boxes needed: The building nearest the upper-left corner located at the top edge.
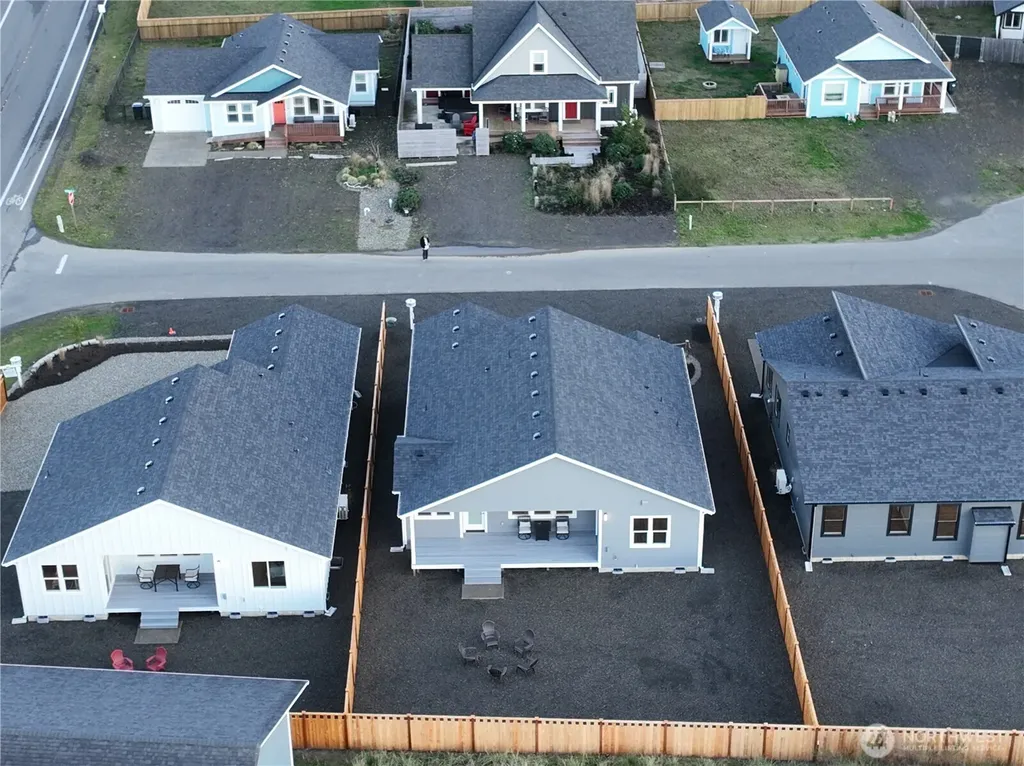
[140,10,384,150]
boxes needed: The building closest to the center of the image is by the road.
[391,300,718,585]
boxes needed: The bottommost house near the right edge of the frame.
[755,288,1024,566]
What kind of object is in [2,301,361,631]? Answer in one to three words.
house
